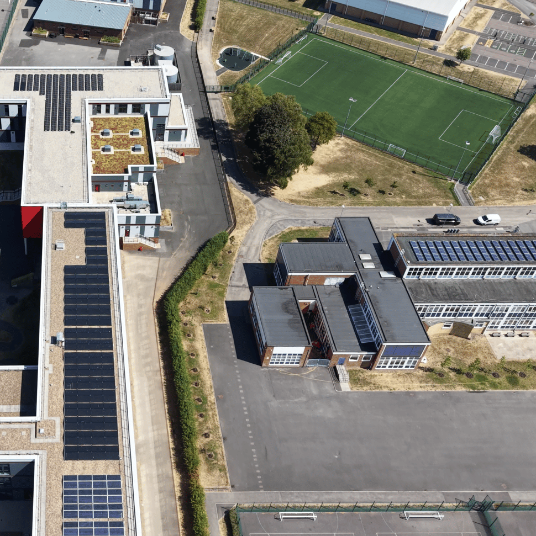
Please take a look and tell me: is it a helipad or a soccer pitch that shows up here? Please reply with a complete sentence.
The one in the frame is a soccer pitch.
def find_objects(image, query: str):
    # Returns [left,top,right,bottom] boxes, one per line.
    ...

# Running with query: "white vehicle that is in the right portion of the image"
[477,212,506,226]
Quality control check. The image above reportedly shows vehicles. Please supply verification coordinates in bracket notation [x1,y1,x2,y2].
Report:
[433,212,464,227]
[477,212,506,226]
